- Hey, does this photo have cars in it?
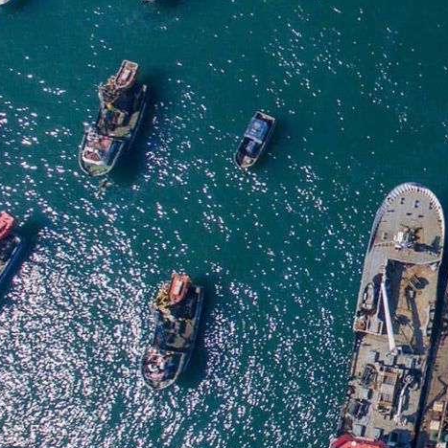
No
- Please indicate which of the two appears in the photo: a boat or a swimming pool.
boat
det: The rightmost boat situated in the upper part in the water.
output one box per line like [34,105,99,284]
[237,111,276,170]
